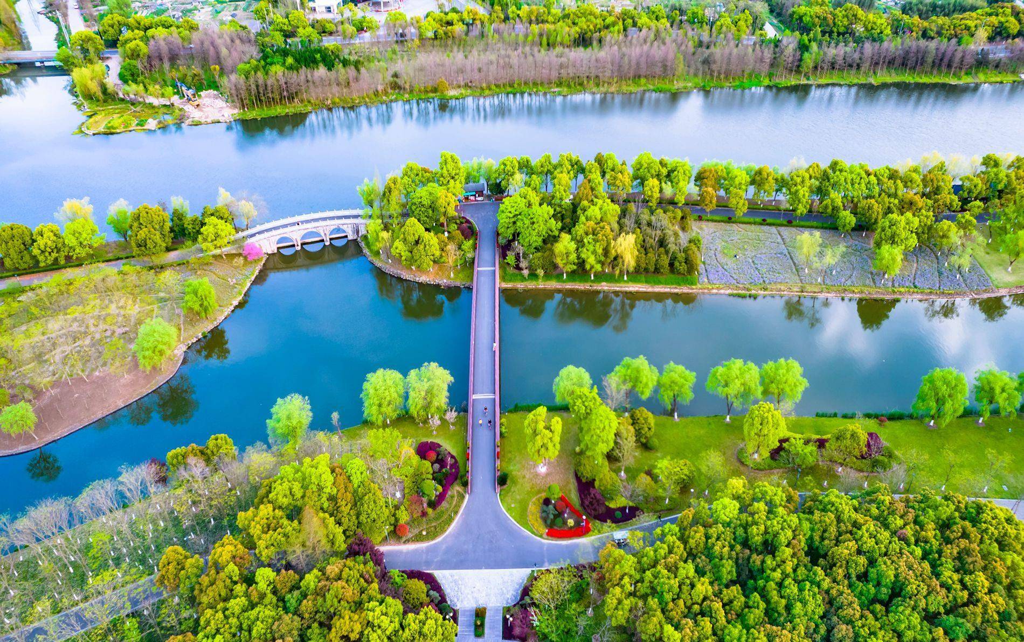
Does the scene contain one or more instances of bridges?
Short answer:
Yes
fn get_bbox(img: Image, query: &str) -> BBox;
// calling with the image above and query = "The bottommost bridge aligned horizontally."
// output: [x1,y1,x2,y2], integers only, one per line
[222,210,399,257]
